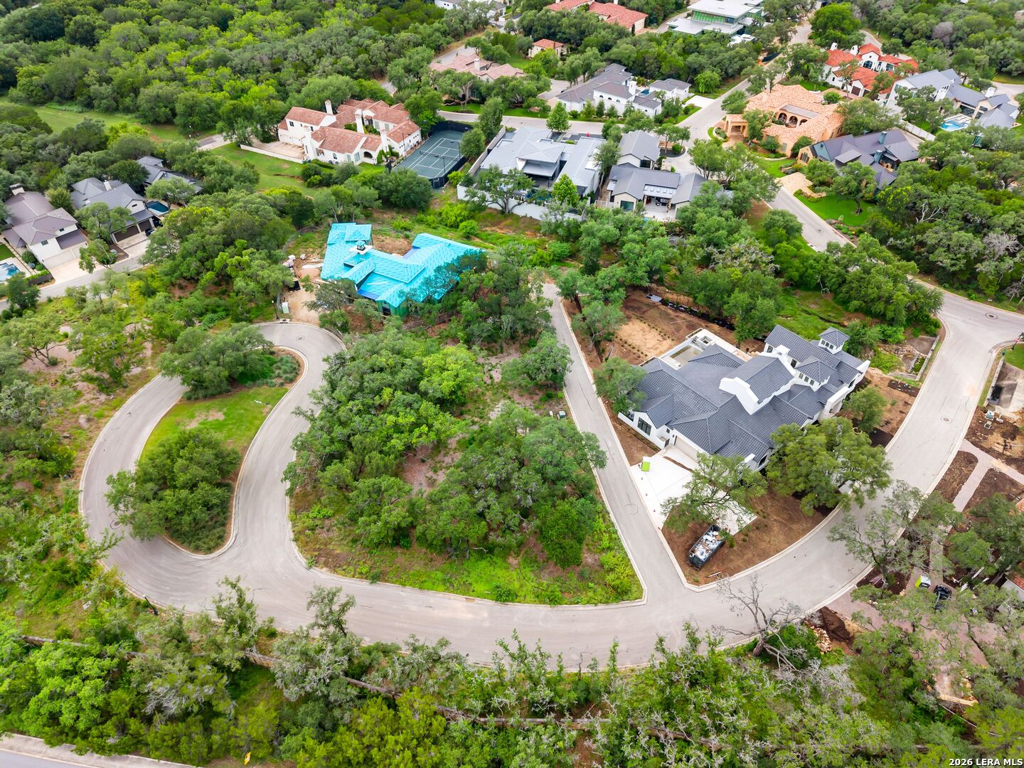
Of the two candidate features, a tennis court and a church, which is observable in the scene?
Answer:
tennis court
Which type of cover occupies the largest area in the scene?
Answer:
trees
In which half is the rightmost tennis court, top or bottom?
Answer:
top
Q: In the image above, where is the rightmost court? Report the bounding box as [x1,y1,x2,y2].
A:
[382,118,476,180]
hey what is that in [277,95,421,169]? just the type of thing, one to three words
house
